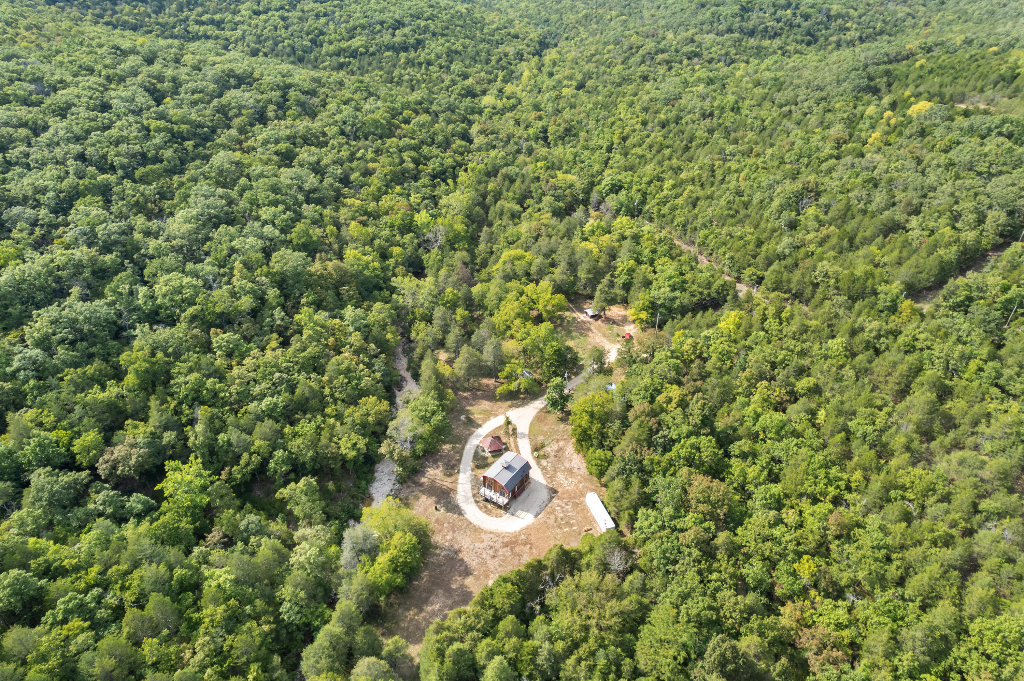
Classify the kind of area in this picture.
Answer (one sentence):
What you see here is a forest.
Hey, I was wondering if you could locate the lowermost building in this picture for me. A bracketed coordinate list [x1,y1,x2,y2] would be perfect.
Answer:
[478,452,532,512]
